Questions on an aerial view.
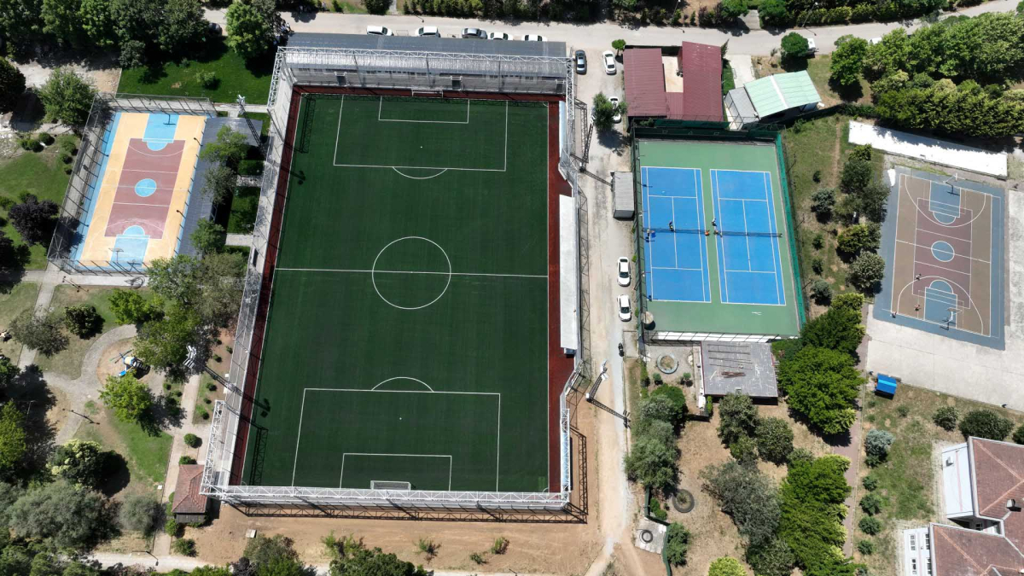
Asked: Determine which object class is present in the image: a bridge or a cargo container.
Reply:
cargo container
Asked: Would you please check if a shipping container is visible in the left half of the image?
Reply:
No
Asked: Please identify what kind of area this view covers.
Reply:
sports ground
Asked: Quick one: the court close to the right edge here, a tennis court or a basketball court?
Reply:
basketball court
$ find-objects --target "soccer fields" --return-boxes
[228,85,575,495]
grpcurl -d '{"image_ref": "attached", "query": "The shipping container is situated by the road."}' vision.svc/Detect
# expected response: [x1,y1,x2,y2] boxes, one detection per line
[610,171,635,218]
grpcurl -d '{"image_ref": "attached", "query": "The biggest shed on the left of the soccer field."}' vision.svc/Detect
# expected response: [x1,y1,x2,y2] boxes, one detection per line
[171,465,212,523]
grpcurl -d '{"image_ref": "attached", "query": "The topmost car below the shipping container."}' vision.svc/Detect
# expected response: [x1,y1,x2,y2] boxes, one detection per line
[617,259,631,286]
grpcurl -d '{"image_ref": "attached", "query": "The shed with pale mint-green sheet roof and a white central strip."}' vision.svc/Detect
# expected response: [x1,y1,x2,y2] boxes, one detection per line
[740,68,821,123]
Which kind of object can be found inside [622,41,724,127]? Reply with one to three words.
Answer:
building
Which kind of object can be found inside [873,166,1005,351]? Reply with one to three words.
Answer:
basketball court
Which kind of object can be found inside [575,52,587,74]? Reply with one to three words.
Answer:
vehicle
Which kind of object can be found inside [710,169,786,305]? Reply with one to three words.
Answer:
tennis court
